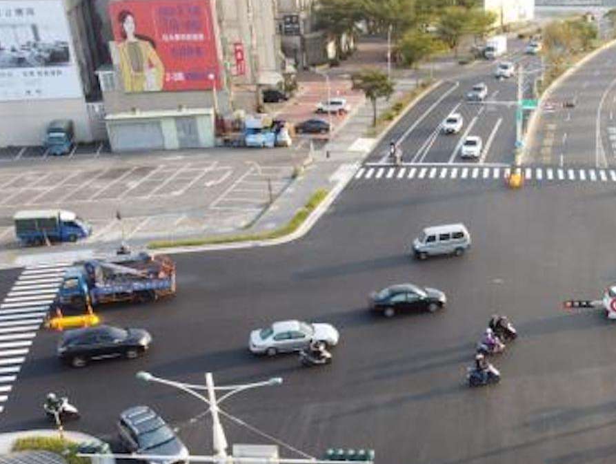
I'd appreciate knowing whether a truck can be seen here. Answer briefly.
Yes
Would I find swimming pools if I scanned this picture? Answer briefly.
No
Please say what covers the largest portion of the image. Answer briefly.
paved ground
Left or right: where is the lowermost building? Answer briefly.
left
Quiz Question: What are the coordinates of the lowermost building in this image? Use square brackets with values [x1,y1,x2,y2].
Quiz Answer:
[100,101,218,152]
